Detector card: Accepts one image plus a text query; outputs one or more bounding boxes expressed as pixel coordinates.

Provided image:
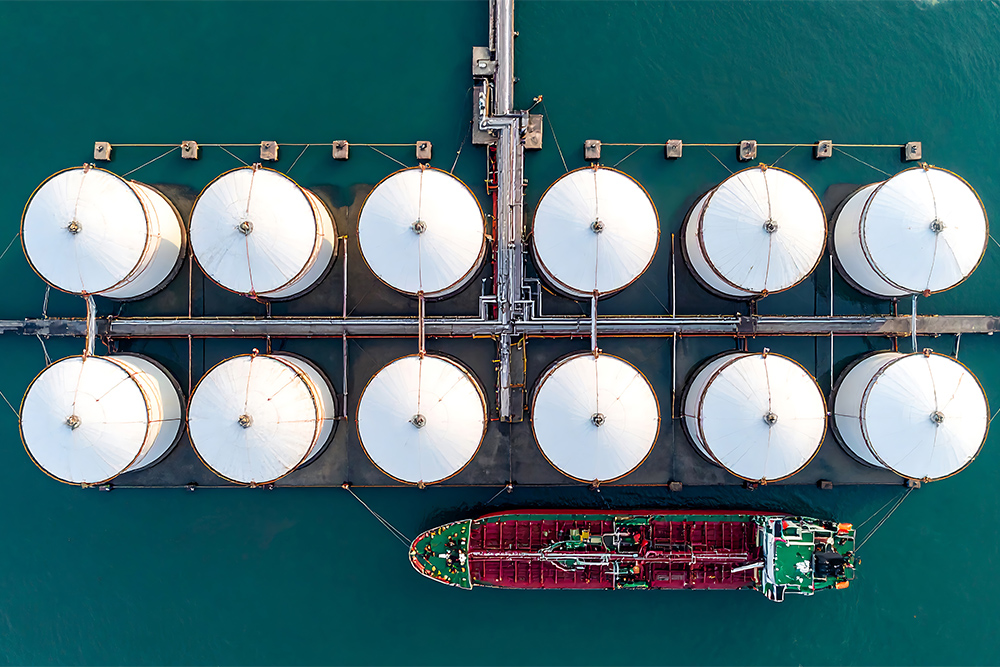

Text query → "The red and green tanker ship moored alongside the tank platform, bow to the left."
[408,509,857,601]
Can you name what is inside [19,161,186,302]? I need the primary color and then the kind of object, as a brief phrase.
white storage tank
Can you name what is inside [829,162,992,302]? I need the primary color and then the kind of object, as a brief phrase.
white storage tank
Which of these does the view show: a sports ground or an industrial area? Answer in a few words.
industrial area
